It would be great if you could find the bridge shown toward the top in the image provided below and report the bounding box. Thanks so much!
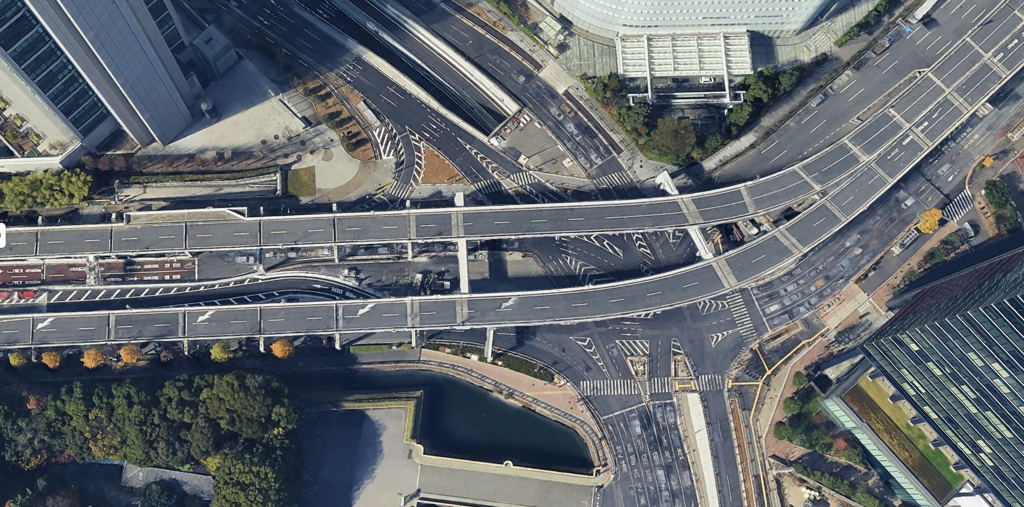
[0,0,1024,294]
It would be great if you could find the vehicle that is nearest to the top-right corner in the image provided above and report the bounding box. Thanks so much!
[909,0,944,27]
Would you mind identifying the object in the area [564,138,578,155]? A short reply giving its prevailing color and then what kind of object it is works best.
gray car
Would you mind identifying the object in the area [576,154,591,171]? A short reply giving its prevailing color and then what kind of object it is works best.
gray car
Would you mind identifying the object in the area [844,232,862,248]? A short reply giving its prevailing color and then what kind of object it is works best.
gray vehicle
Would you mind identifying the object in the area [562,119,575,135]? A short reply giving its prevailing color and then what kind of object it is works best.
gray vehicle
